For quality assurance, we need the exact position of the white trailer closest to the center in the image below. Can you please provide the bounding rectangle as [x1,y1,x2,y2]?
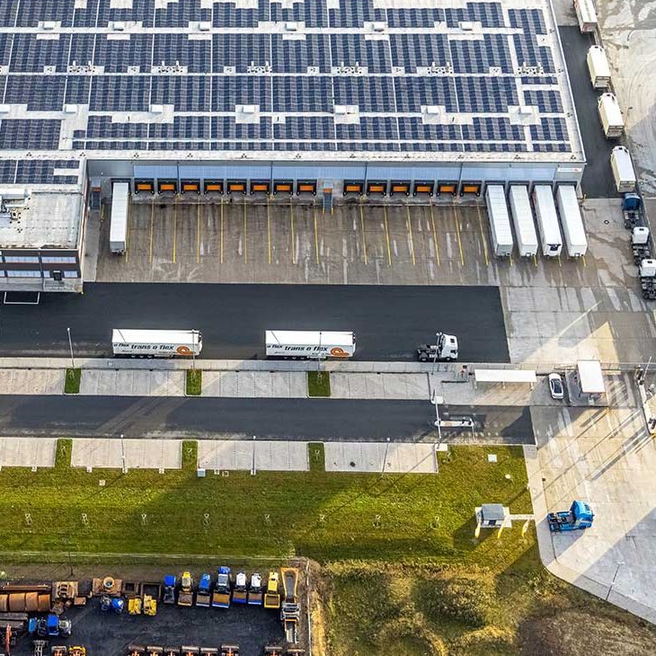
[265,327,358,356]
